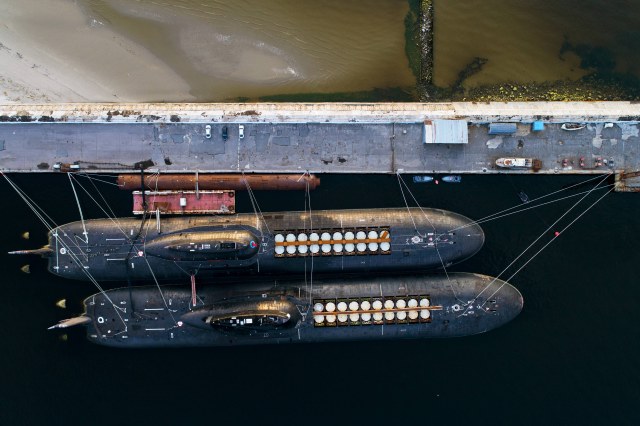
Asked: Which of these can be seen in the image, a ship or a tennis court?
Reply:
ship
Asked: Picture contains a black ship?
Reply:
Yes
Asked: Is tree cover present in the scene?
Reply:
No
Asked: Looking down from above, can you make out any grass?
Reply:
No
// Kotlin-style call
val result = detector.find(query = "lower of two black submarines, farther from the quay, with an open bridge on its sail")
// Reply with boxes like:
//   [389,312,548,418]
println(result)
[45,272,526,347]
